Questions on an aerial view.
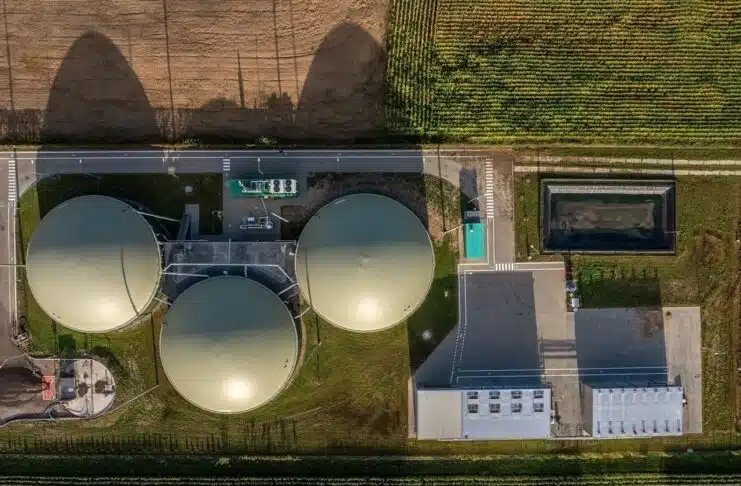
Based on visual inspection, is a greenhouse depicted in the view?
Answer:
No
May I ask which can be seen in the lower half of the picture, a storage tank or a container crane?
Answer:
storage tank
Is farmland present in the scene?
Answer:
Yes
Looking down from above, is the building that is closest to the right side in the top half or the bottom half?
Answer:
bottom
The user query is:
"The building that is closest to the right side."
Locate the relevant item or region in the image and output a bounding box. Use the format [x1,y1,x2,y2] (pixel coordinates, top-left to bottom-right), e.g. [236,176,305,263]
[579,380,685,438]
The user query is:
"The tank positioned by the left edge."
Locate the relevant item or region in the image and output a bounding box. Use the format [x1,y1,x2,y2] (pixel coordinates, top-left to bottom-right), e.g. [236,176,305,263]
[24,195,174,332]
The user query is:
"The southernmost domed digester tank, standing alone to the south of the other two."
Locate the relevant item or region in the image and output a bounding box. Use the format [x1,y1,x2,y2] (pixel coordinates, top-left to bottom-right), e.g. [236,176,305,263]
[161,270,305,413]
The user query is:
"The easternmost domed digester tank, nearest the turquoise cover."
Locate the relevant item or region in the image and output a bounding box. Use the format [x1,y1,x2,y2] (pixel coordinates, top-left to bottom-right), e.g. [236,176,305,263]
[295,192,436,332]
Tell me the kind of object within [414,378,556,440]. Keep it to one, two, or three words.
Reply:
building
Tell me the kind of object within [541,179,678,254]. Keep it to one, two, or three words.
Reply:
pond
